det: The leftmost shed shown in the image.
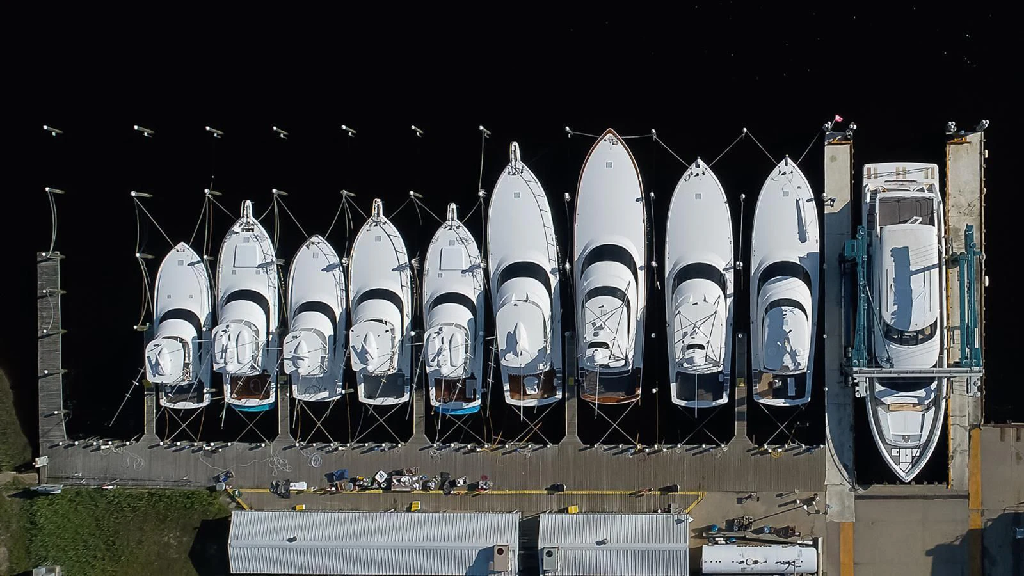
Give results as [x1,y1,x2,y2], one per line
[224,508,520,575]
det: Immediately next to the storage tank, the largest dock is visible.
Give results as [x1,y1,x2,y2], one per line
[39,443,826,491]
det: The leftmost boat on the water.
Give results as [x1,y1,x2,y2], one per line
[111,242,215,424]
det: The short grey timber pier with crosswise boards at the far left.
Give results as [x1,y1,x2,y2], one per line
[38,253,68,444]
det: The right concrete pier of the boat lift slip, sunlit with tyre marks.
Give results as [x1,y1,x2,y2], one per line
[945,133,988,492]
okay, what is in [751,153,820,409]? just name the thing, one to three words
boat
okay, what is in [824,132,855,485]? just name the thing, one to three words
pier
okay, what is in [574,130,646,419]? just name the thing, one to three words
boat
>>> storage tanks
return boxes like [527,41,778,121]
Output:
[701,545,817,573]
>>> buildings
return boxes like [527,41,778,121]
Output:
[537,511,690,576]
[224,508,520,575]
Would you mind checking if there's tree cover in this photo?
No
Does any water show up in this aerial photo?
Yes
